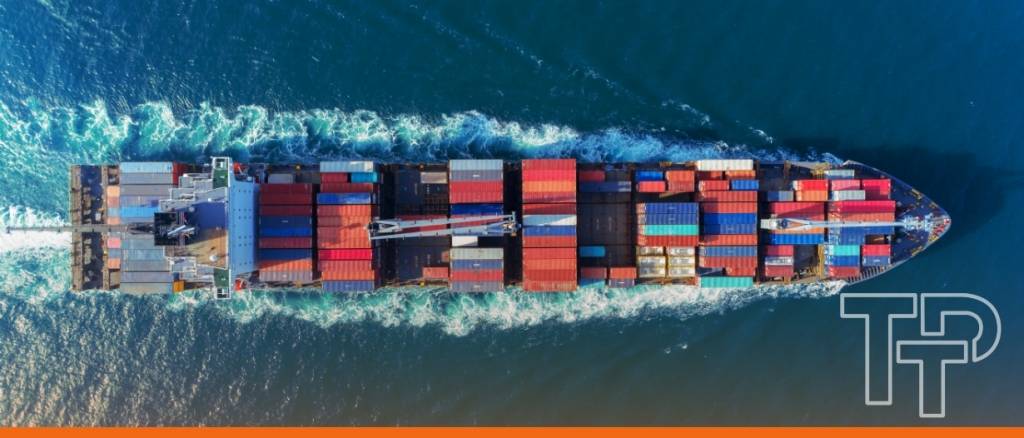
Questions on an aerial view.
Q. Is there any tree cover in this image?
No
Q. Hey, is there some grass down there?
No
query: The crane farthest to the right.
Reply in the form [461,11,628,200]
[757,215,900,235]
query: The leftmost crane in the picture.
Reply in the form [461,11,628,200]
[7,223,156,236]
